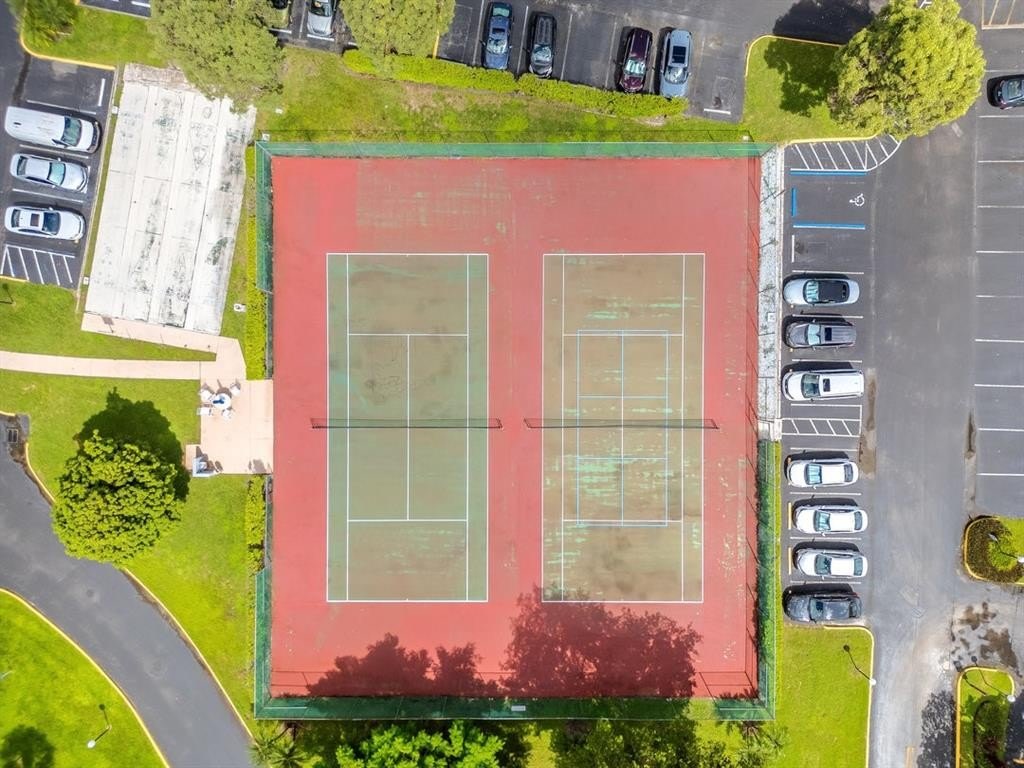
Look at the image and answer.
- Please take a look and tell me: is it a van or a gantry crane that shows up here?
van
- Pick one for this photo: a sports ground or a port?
sports ground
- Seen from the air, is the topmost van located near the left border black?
No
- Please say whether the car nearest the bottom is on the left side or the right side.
right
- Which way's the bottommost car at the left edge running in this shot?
from side to side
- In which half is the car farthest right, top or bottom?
top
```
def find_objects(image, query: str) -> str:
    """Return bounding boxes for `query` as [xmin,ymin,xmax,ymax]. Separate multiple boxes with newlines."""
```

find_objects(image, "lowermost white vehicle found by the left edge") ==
[6,207,86,242]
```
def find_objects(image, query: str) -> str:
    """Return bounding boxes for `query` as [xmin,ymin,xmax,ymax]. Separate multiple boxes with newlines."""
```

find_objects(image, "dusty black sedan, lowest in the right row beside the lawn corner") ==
[783,590,860,626]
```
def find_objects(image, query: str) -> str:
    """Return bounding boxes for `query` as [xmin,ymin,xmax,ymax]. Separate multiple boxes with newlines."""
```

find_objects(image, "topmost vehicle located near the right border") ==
[994,81,1024,113]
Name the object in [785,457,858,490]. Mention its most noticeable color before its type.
white car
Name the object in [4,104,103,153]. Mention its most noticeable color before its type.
white van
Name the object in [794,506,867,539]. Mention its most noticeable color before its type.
white car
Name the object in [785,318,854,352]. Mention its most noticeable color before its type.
gray car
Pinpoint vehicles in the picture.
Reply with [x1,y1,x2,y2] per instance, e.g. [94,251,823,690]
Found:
[525,13,559,82]
[794,506,867,539]
[306,0,342,41]
[481,1,516,75]
[4,104,103,153]
[619,27,656,98]
[781,369,862,405]
[783,590,860,626]
[6,207,86,242]
[994,81,1024,113]
[658,29,694,102]
[782,274,859,309]
[785,318,854,352]
[11,153,91,193]
[795,548,868,583]
[785,457,858,490]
